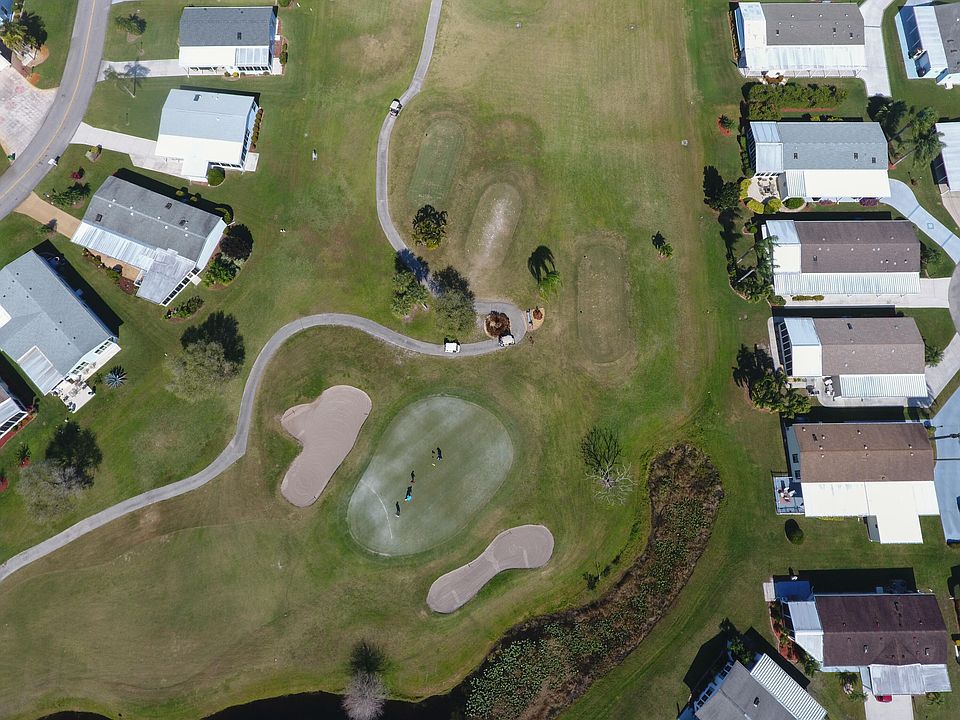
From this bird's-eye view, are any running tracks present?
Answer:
No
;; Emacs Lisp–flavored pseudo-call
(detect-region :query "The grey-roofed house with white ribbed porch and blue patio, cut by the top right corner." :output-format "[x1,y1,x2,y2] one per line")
[900,3,960,94]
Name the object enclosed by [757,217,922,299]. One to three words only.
house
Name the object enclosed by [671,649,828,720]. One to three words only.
house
